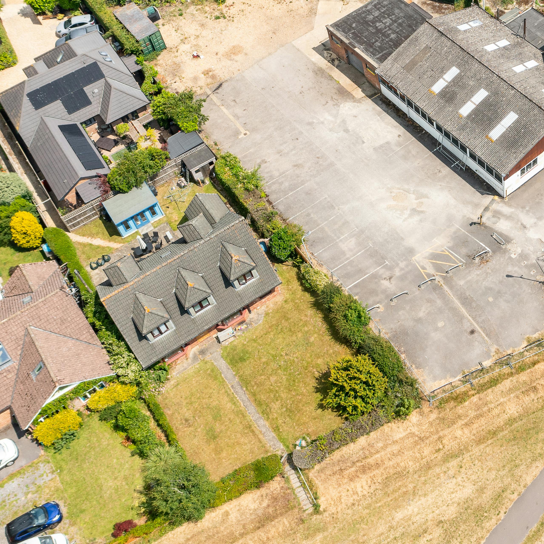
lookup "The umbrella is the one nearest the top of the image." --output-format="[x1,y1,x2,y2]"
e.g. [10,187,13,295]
[95,136,118,151]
